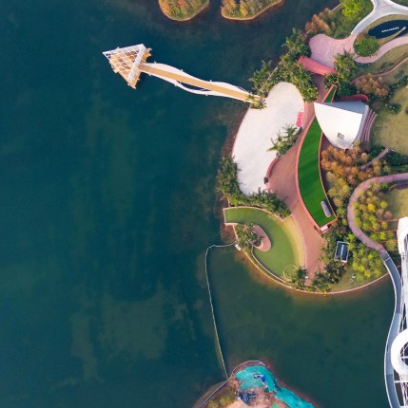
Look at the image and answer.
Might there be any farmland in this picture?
No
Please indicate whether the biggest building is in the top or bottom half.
top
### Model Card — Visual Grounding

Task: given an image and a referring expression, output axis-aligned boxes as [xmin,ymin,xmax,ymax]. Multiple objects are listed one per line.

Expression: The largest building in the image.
[313,99,366,149]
